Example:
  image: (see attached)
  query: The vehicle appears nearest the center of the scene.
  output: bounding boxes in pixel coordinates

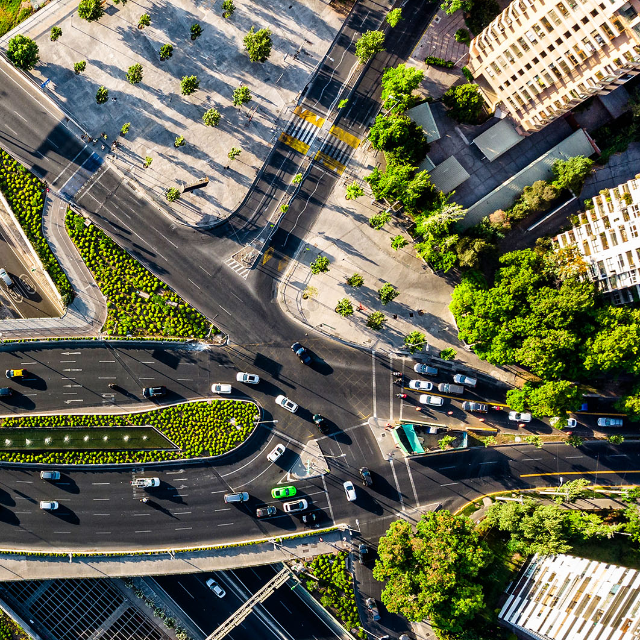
[291,340,314,366]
